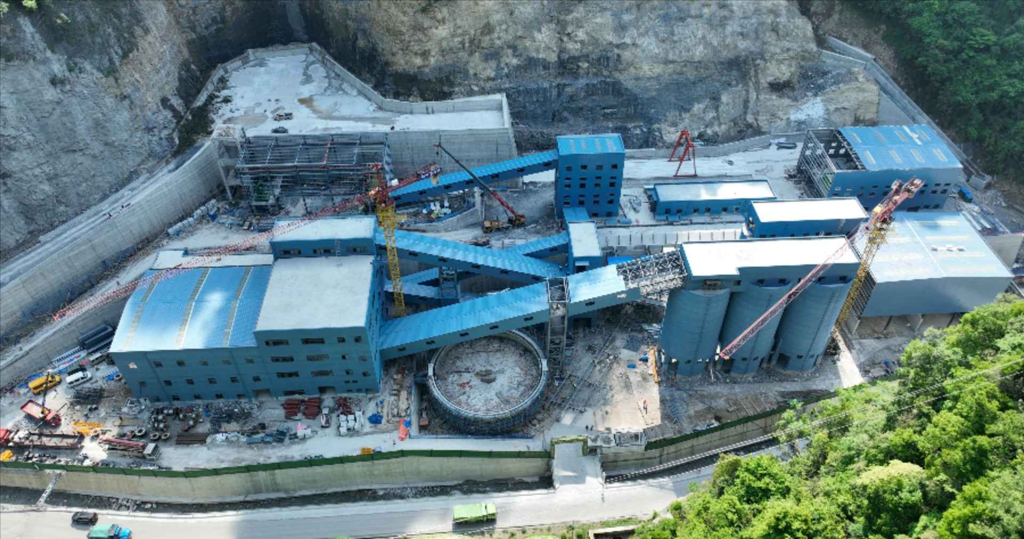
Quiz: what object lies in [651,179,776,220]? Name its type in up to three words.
shed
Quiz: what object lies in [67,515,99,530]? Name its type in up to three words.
car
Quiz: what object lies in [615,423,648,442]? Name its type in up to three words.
building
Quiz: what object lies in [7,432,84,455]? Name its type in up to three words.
trailer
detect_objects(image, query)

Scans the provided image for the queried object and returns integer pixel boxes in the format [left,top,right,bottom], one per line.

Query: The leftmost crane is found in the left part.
[45,161,442,348]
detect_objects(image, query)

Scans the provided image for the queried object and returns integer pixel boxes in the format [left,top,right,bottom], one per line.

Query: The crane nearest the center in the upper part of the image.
[434,143,530,234]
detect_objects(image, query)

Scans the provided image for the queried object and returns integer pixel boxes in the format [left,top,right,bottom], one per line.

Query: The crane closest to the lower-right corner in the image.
[713,172,922,383]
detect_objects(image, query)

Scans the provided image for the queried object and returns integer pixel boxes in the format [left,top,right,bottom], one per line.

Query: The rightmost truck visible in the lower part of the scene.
[451,504,501,529]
